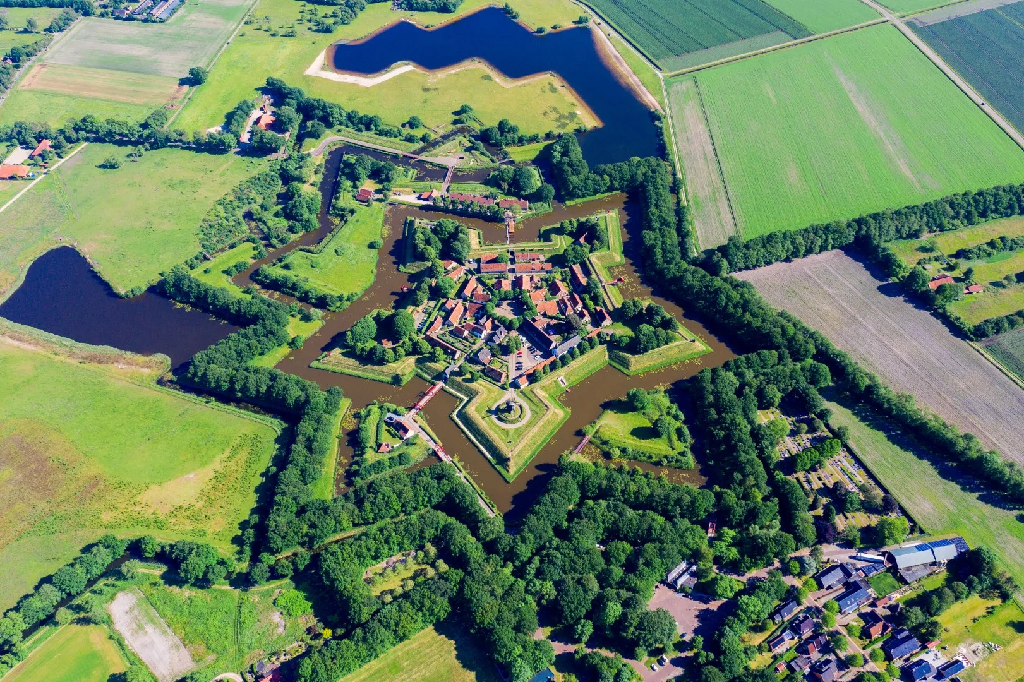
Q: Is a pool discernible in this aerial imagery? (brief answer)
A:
No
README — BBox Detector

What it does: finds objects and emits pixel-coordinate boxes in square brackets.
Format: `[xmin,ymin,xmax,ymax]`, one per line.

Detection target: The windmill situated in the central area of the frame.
[496,387,522,418]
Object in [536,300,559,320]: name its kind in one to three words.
house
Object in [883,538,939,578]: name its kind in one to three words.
barn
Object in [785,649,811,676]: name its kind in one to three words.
house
